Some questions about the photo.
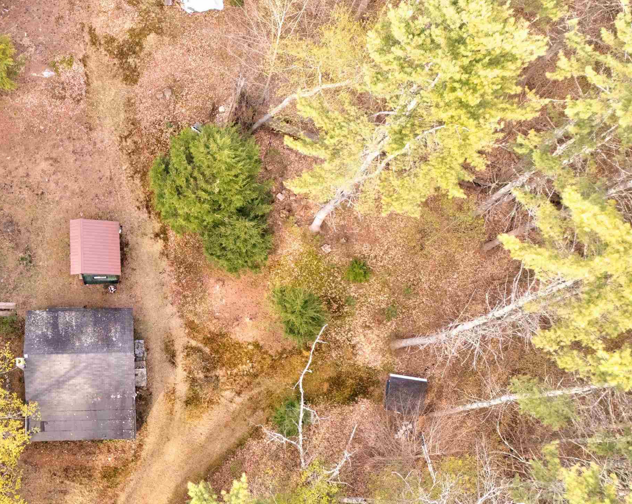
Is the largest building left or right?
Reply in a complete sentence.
The largest building is on the left side of the image.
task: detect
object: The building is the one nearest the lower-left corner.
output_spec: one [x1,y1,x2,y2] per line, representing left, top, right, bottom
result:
[10,306,136,442]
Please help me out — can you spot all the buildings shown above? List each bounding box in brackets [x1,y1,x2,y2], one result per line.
[381,372,428,415]
[70,217,126,282]
[10,306,136,442]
